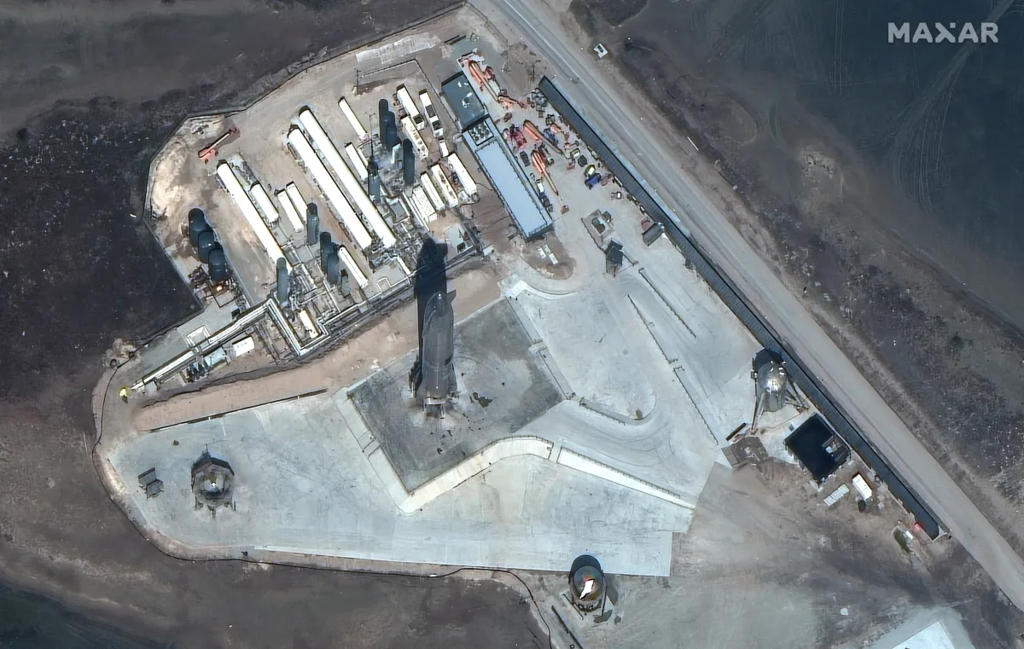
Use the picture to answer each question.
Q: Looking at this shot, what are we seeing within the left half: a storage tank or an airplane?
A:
storage tank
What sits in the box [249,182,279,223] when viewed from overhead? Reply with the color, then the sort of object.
white storage tank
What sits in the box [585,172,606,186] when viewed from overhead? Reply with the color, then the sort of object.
blue work vehicle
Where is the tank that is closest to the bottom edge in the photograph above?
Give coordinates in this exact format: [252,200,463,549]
[569,570,607,613]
